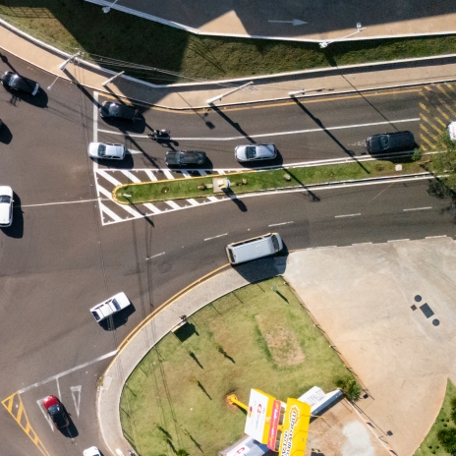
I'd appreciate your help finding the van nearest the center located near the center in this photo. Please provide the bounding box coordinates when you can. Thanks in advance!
[223,231,286,264]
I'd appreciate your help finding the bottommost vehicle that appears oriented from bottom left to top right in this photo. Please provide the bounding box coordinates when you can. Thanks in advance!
[89,290,131,324]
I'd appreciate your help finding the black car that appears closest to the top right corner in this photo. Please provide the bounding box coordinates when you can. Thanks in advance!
[364,130,419,155]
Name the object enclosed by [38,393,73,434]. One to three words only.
car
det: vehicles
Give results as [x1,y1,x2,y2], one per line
[165,147,213,170]
[0,185,15,227]
[89,290,131,324]
[0,69,45,100]
[150,132,170,139]
[223,231,286,264]
[99,97,145,122]
[81,443,102,456]
[364,130,419,155]
[38,393,73,434]
[88,140,128,162]
[234,143,279,165]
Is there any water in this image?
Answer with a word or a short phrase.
No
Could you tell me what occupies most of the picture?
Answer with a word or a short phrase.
paved ground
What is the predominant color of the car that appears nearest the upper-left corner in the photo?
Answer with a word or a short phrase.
black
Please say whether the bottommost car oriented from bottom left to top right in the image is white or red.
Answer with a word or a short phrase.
white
